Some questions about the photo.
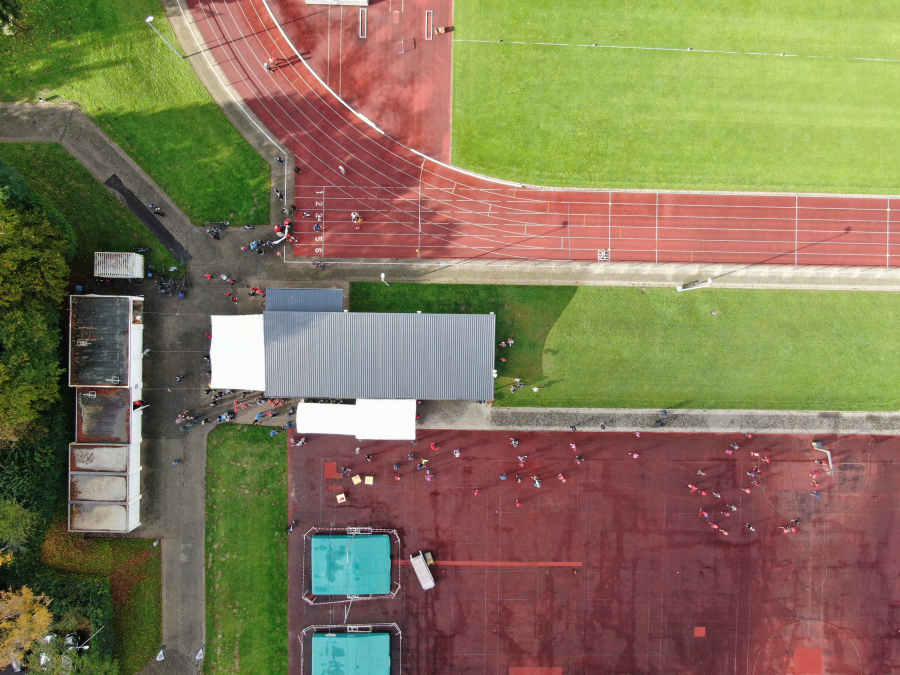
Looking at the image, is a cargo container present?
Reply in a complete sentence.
Yes, there's a cargo container down there.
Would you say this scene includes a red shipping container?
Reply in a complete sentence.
No, there is no red shipping container in the image.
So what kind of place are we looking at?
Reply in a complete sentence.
The area seen from above is a sports ground.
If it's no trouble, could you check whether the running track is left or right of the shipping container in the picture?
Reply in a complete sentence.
Relative to the shipping container, the running track lies to the right.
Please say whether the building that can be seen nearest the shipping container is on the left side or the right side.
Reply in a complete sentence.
The building that can be seen nearest the shipping container appears in the left half of the scene.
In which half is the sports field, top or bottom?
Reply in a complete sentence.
It is in the top half that the sports field appears.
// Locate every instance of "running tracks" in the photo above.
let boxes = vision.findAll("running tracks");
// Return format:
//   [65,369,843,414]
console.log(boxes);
[188,0,900,268]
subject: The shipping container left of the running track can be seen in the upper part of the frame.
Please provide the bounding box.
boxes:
[94,251,145,278]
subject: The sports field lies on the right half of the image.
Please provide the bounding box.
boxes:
[451,0,900,192]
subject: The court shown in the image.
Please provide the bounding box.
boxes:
[287,428,900,675]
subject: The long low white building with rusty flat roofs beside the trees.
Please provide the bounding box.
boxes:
[69,295,151,532]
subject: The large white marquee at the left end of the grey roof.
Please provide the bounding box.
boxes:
[207,316,268,390]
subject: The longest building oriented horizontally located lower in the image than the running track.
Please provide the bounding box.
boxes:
[263,287,497,401]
